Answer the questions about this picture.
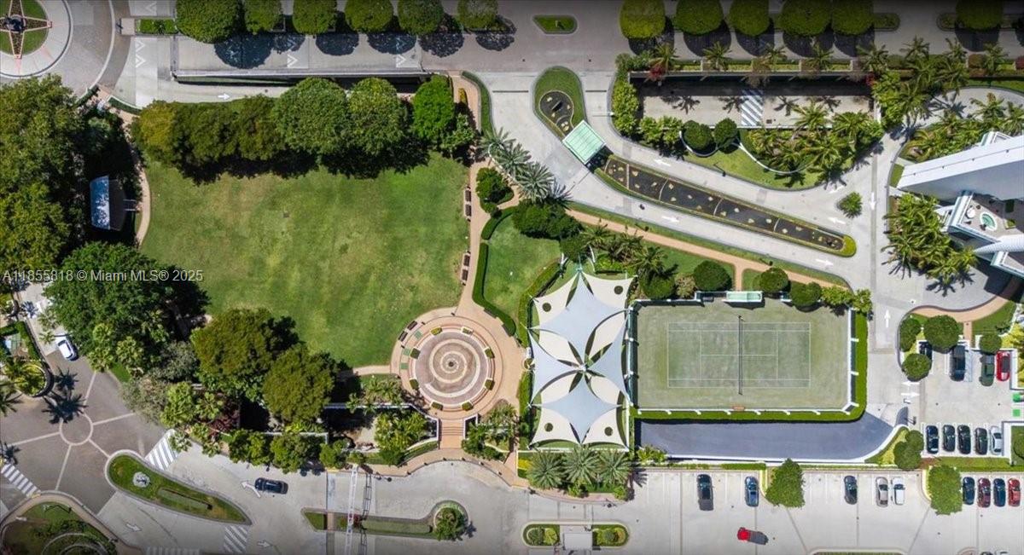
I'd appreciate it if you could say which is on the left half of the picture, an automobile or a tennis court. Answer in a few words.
automobile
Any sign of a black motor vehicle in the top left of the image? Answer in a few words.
No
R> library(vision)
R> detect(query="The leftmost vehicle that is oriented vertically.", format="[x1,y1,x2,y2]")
[697,475,712,511]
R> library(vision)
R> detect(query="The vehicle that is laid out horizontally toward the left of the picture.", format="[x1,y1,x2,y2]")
[256,478,286,494]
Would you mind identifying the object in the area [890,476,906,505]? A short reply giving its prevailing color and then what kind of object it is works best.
white car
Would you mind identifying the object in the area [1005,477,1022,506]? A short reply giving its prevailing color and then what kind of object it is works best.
red car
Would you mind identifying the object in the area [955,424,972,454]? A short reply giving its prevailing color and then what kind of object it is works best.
black car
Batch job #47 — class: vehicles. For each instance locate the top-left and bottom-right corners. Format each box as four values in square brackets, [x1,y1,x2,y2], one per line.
[975,477,993,507]
[1005,477,1022,506]
[697,475,712,511]
[890,476,906,505]
[874,476,889,506]
[744,476,759,506]
[843,474,859,504]
[1010,390,1024,405]
[988,425,1003,455]
[736,527,769,546]
[940,423,957,453]
[918,338,934,367]
[955,424,972,454]
[979,354,995,383]
[994,351,1011,380]
[256,478,286,494]
[960,475,977,505]
[996,544,1012,555]
[923,424,940,454]
[972,426,989,455]
[990,477,1008,507]
[948,346,967,379]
